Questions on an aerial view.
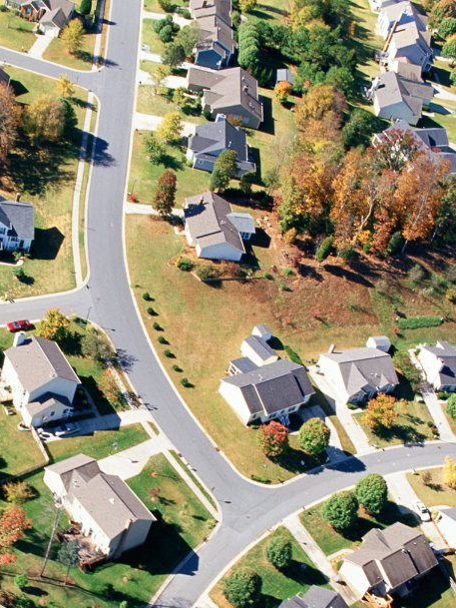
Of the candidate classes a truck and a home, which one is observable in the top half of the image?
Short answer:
home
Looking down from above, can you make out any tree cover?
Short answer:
Yes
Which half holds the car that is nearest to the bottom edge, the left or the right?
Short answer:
right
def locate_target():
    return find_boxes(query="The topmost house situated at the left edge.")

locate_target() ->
[5,0,72,39]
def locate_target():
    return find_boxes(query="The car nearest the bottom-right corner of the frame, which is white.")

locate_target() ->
[414,498,434,519]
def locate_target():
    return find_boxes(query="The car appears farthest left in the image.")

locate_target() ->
[6,316,34,330]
